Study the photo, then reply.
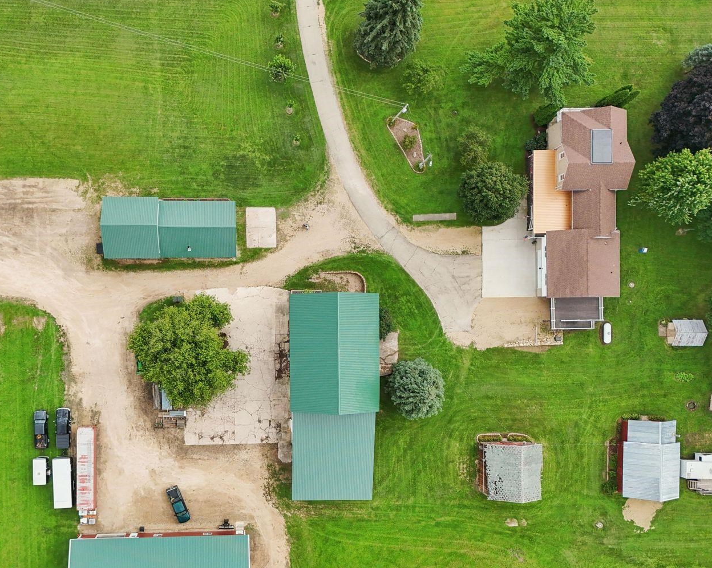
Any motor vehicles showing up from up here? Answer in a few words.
Yes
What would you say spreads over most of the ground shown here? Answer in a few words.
grass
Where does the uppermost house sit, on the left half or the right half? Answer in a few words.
right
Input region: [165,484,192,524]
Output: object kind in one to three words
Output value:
truck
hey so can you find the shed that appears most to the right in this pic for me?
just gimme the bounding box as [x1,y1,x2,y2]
[664,320,708,346]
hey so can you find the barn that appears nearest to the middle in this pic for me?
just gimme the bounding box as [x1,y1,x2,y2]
[290,292,380,415]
